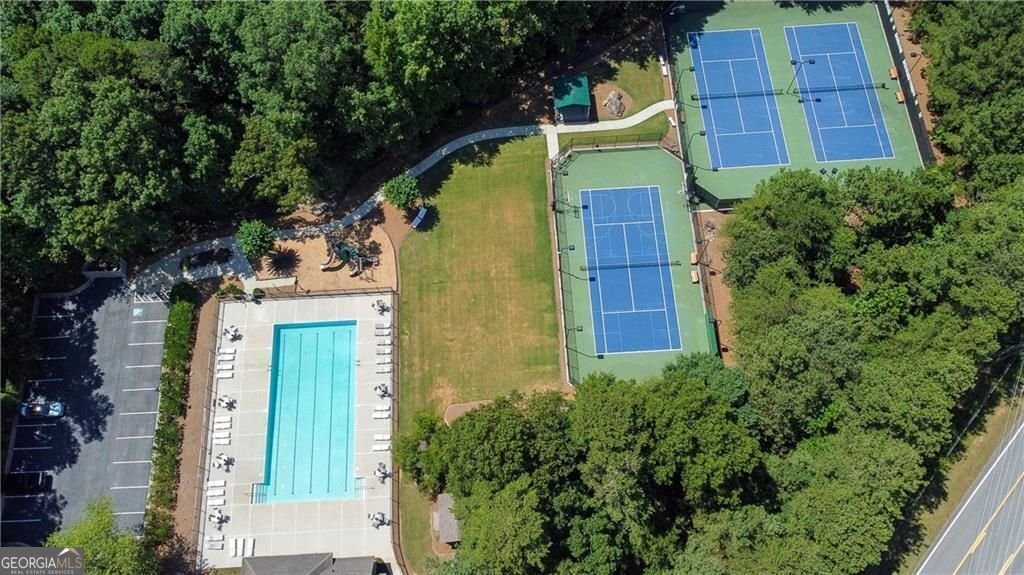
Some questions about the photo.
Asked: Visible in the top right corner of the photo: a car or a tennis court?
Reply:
tennis court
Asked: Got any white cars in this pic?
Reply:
No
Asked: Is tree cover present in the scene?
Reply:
Yes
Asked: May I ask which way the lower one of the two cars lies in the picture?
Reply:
from side to side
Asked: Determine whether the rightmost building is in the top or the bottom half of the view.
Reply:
top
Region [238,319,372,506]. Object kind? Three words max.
swimming pool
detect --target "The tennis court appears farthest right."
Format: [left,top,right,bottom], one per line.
[770,0,924,189]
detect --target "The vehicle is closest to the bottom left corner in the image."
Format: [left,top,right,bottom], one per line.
[2,471,50,492]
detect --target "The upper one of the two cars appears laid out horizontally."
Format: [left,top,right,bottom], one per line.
[19,400,62,419]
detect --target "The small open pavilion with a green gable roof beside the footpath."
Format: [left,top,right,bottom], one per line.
[555,75,593,123]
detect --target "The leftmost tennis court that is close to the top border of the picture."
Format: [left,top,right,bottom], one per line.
[666,0,810,192]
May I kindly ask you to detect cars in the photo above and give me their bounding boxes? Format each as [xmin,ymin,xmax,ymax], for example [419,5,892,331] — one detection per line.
[19,400,62,419]
[2,471,50,492]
